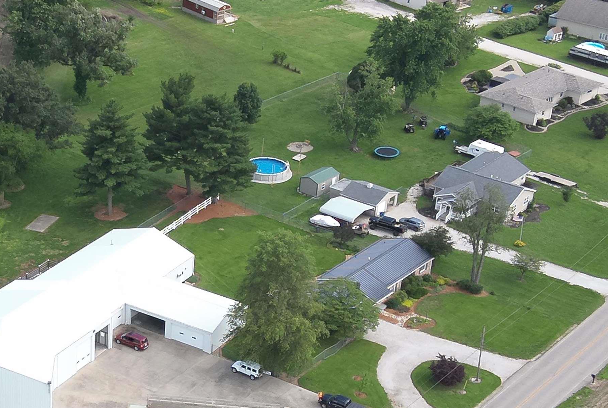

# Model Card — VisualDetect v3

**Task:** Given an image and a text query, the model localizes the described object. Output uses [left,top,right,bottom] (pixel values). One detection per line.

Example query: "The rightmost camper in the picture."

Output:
[568,40,608,64]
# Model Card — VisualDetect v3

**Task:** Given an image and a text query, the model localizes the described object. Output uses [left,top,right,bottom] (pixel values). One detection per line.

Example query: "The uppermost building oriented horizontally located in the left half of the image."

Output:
[183,0,232,23]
